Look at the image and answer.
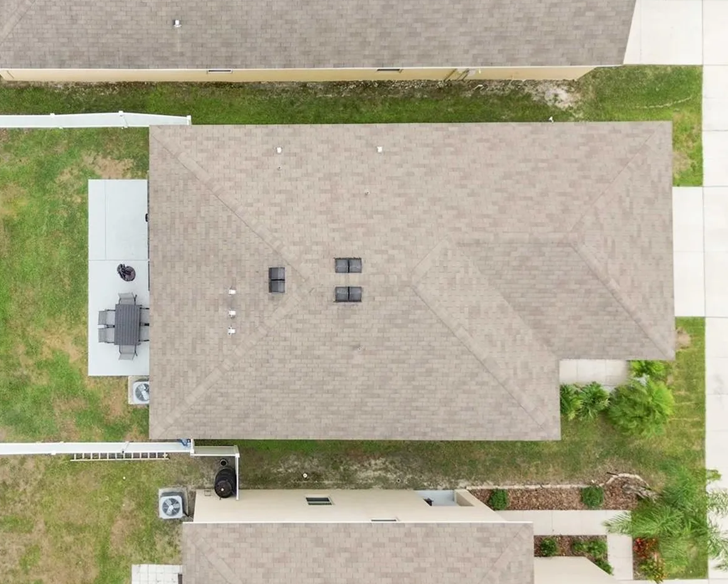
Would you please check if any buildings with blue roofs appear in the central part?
No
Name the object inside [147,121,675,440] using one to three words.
house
